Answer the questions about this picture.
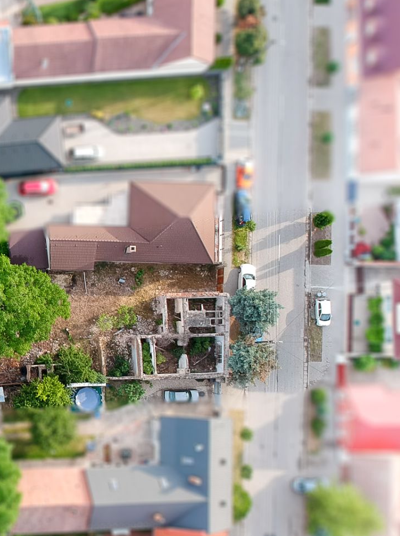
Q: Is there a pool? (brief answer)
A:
Yes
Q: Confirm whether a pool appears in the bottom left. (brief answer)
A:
Yes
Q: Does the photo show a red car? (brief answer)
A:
Yes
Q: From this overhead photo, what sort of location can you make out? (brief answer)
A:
residential area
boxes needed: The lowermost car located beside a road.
[290,477,322,493]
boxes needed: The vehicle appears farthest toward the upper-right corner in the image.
[235,160,254,193]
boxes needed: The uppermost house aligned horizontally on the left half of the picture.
[11,0,217,84]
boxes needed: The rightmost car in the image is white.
[314,297,332,328]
